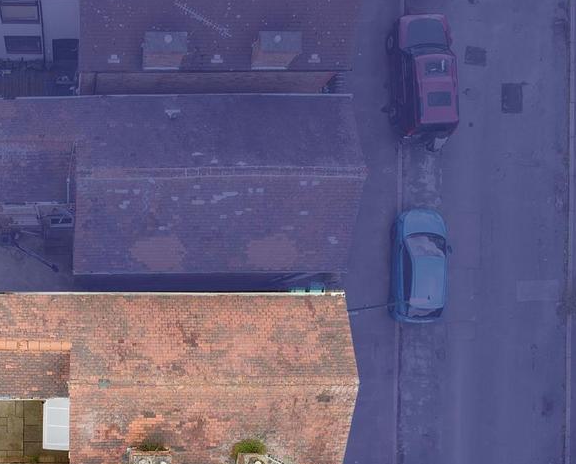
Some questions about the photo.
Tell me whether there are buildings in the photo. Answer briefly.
Yes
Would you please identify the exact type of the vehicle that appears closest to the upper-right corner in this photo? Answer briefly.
automobile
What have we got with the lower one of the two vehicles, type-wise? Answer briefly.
automobile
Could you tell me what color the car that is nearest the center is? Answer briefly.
blue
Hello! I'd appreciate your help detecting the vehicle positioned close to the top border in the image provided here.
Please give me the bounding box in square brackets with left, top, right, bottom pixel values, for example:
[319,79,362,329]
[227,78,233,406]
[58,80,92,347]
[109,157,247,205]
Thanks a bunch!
[389,15,458,137]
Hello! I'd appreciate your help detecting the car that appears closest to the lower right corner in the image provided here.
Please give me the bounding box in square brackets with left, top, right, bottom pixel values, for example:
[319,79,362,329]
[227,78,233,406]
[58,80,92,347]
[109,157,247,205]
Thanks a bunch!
[390,210,453,323]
